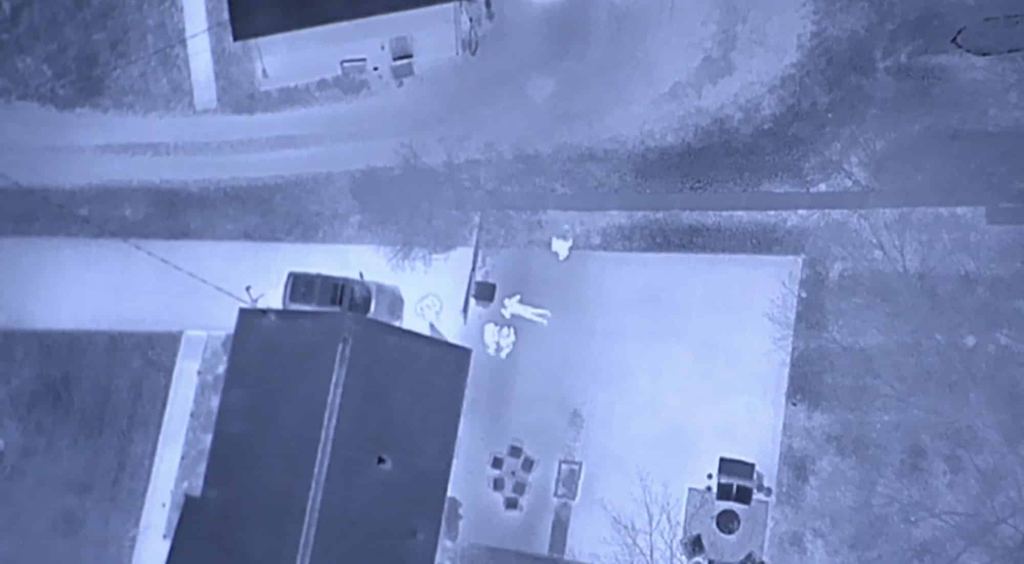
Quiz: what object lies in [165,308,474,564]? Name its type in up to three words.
house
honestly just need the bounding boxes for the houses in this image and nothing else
[226,0,473,46]
[165,308,474,564]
